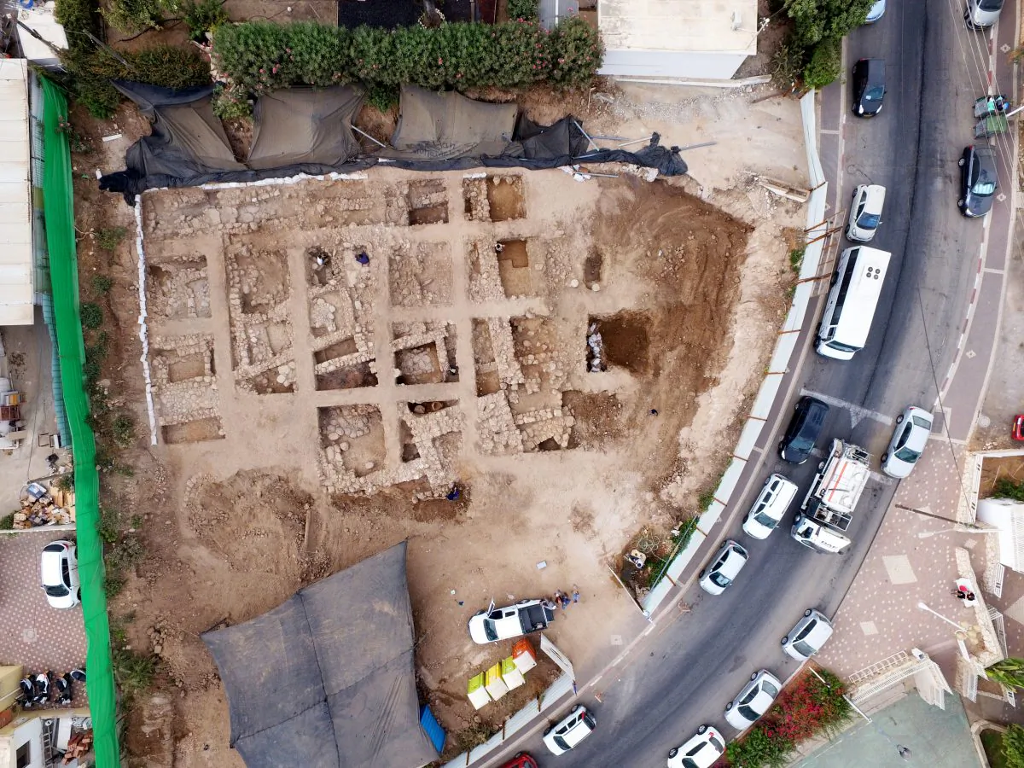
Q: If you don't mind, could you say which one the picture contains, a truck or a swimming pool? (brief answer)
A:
truck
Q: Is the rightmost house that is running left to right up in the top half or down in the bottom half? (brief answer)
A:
top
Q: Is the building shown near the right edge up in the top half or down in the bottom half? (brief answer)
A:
bottom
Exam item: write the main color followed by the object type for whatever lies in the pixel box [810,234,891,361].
white vehicle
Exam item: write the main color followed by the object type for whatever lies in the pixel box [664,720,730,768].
white car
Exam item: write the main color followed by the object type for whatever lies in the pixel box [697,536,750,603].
white car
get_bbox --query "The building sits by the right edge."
[980,494,1024,577]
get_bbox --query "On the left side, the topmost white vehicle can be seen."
[37,538,81,609]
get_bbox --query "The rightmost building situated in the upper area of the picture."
[593,0,757,76]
